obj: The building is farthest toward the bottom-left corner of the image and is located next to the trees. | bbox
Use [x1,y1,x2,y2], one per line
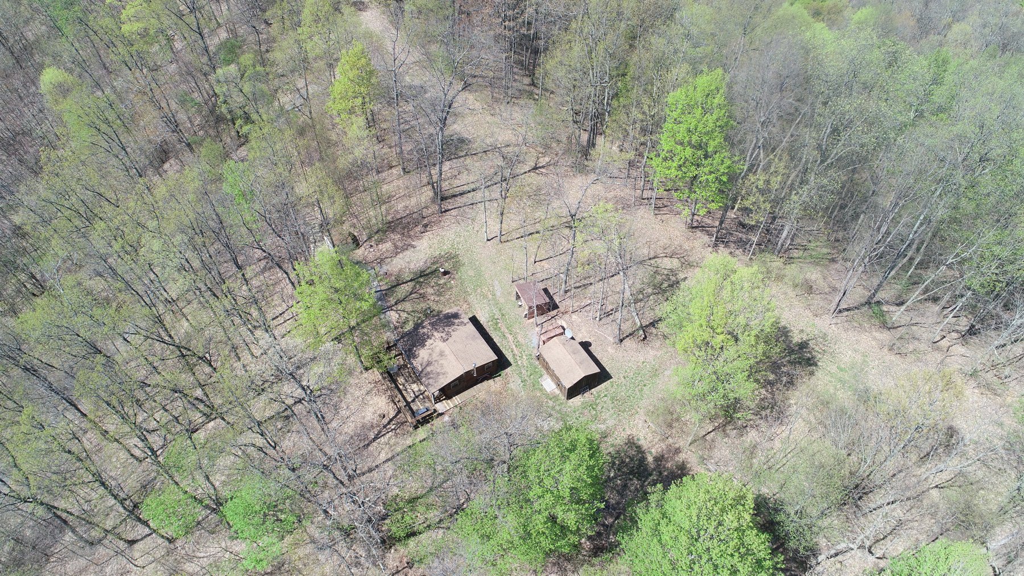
[394,308,498,407]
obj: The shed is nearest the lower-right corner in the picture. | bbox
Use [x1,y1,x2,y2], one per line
[539,336,600,397]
